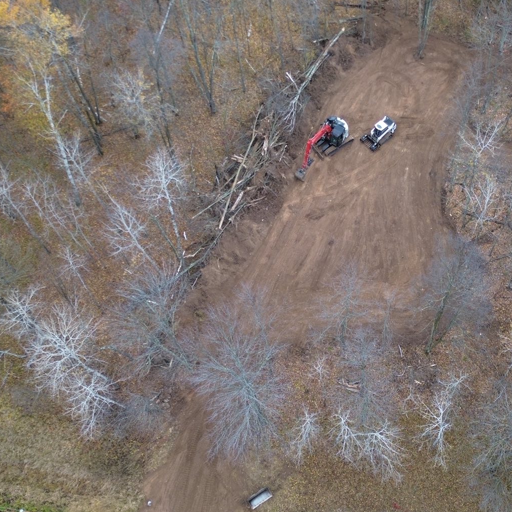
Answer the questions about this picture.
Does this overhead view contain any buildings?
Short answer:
No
